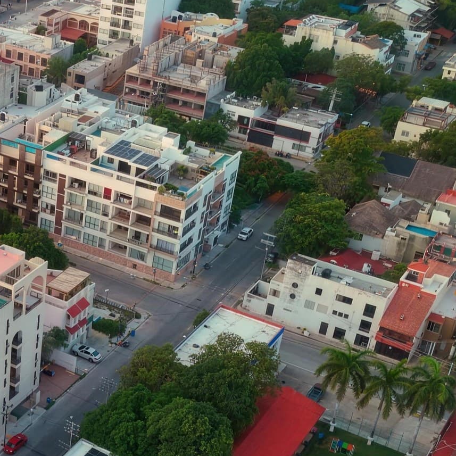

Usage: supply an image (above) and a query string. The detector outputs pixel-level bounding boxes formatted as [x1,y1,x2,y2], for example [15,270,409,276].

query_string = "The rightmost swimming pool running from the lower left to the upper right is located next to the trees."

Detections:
[212,155,235,171]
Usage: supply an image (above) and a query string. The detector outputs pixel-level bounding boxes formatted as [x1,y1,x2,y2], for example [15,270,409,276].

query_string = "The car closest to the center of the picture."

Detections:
[236,224,255,240]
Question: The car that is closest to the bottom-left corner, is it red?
Yes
